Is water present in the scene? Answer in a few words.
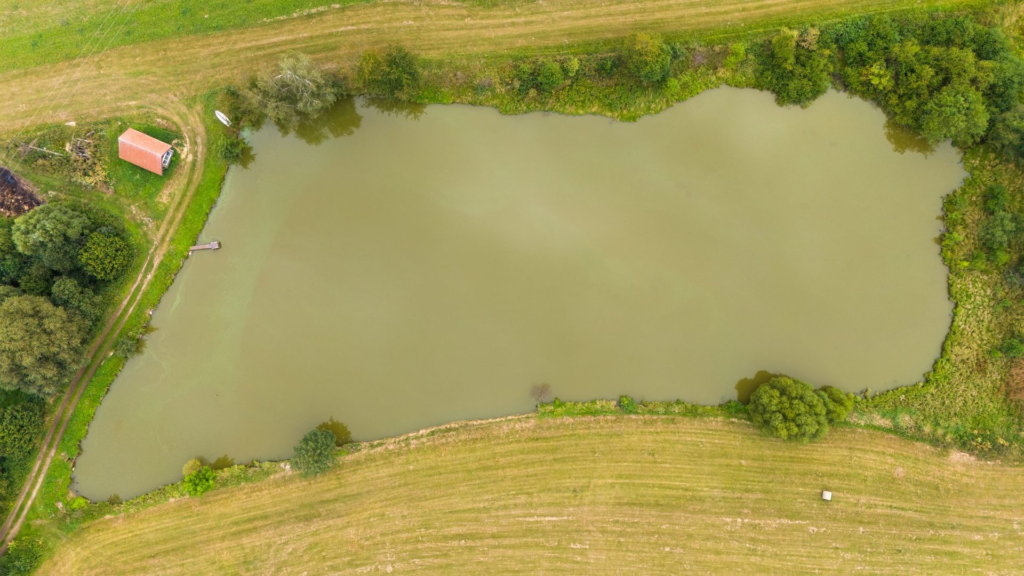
Yes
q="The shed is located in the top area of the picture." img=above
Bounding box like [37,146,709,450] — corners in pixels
[118,128,179,175]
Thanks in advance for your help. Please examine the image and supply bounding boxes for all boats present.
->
[214,110,233,128]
